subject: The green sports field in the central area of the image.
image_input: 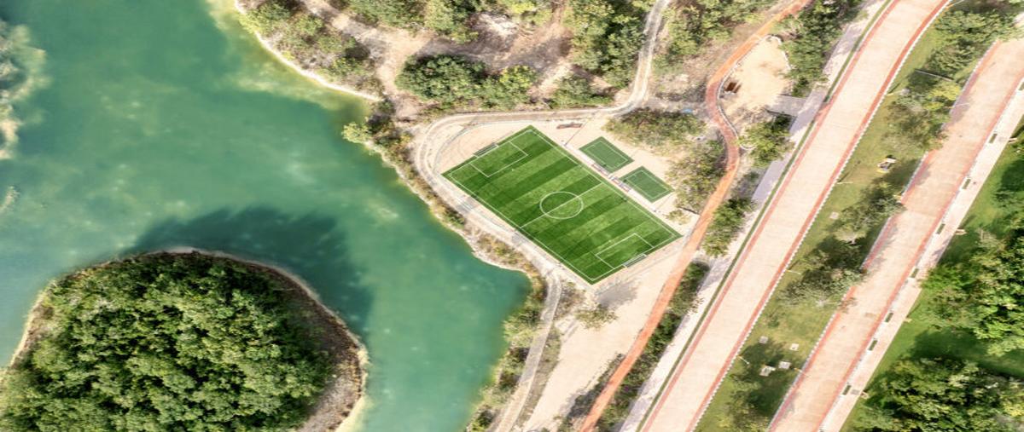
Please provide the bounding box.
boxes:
[443,126,681,283]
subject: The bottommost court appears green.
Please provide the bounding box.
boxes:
[619,166,673,201]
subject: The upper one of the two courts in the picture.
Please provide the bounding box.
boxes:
[579,136,633,172]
